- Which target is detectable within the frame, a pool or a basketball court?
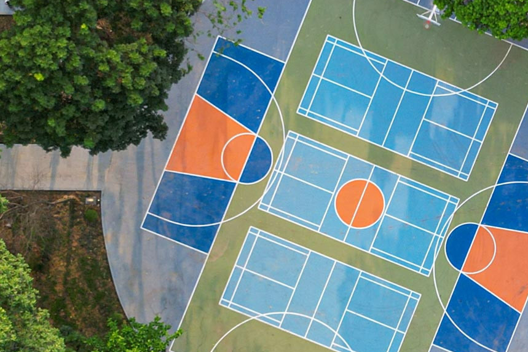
basketball court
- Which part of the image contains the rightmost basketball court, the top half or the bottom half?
bottom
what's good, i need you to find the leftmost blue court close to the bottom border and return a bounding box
[219,226,422,352]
